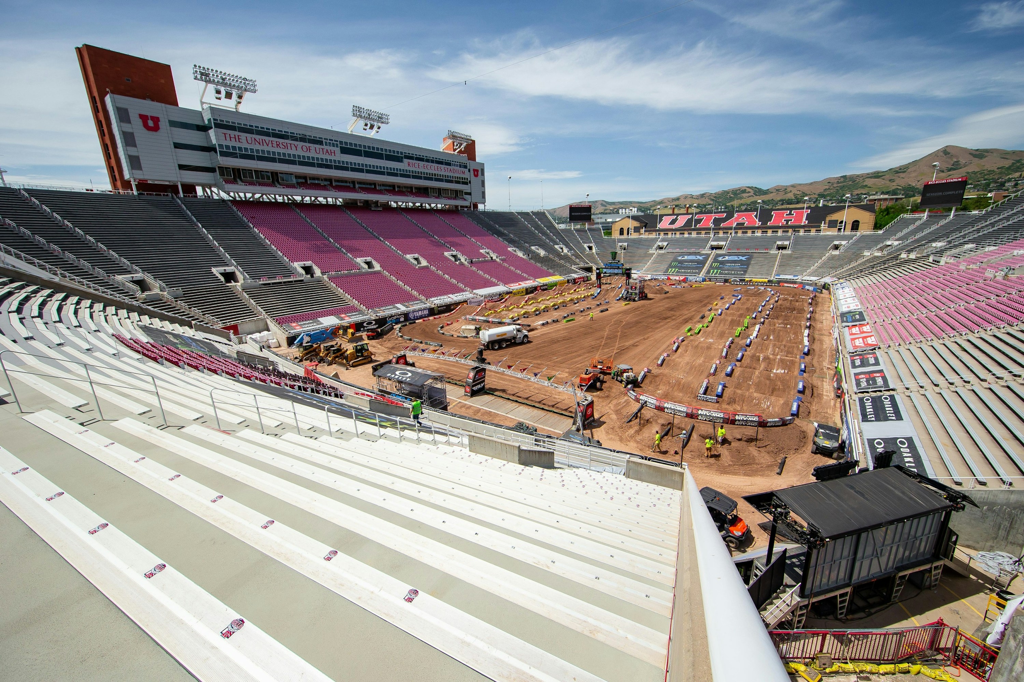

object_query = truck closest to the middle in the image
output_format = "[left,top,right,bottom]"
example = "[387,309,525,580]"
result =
[482,324,538,351]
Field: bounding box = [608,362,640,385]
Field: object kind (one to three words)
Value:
vehicle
